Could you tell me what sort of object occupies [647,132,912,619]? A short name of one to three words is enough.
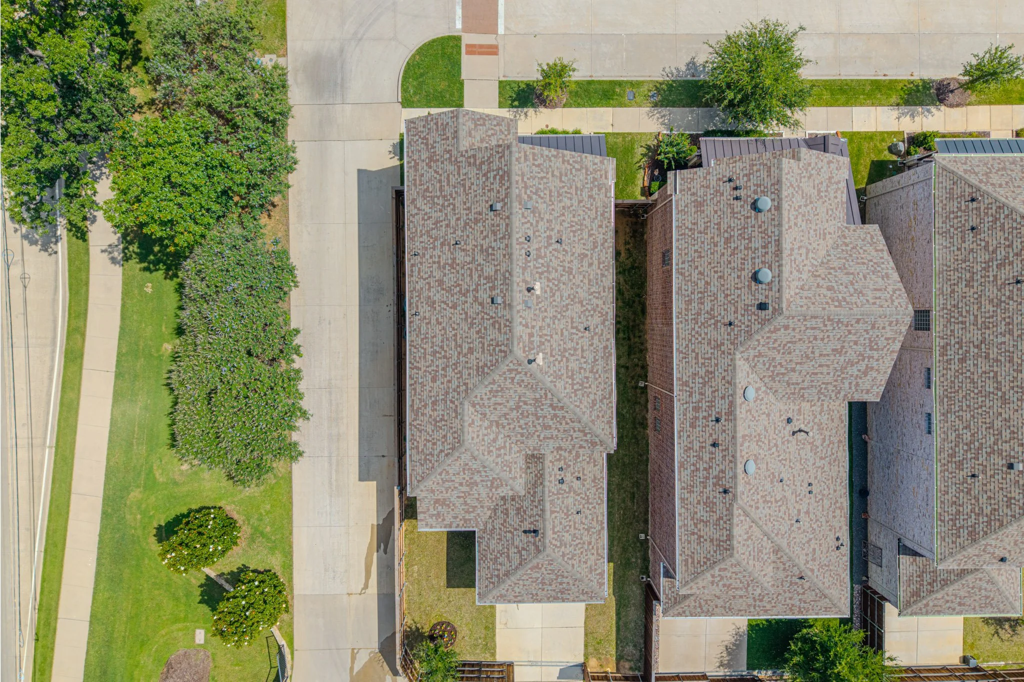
house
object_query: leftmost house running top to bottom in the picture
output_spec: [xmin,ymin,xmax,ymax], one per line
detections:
[404,109,618,606]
